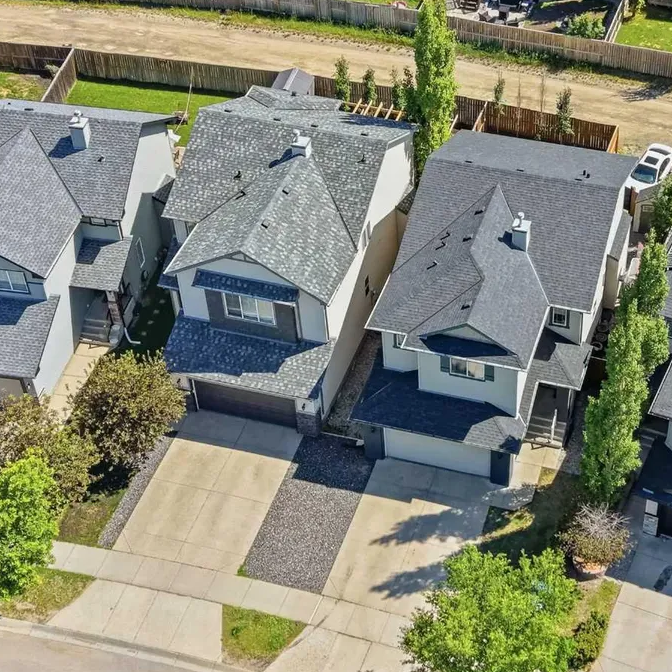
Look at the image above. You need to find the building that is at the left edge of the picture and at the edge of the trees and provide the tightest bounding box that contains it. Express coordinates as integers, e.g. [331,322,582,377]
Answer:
[0,99,178,422]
